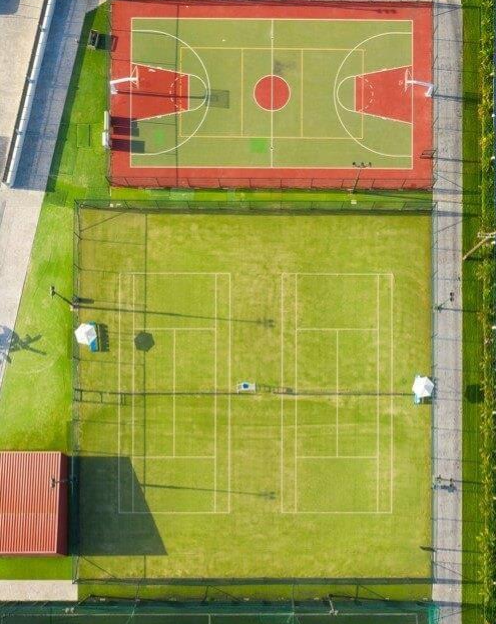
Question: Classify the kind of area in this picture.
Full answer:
This looks like a sports ground.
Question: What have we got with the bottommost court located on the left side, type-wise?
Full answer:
The bottommost court located on the left side is a tennis court.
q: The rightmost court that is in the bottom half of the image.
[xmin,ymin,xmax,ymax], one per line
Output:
[282,273,392,513]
